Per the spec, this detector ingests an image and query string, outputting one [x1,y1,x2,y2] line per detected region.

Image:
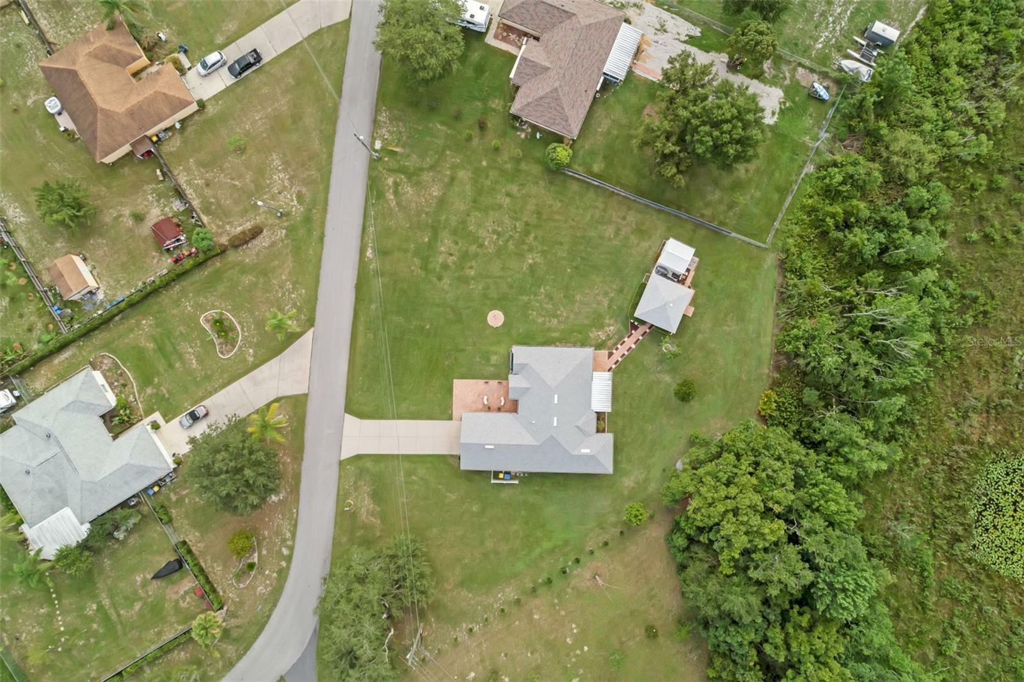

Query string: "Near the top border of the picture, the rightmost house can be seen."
[498,0,643,141]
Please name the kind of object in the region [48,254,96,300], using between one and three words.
shed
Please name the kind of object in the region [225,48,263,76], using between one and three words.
vehicle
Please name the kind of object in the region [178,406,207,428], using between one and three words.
car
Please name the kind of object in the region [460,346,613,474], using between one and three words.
house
